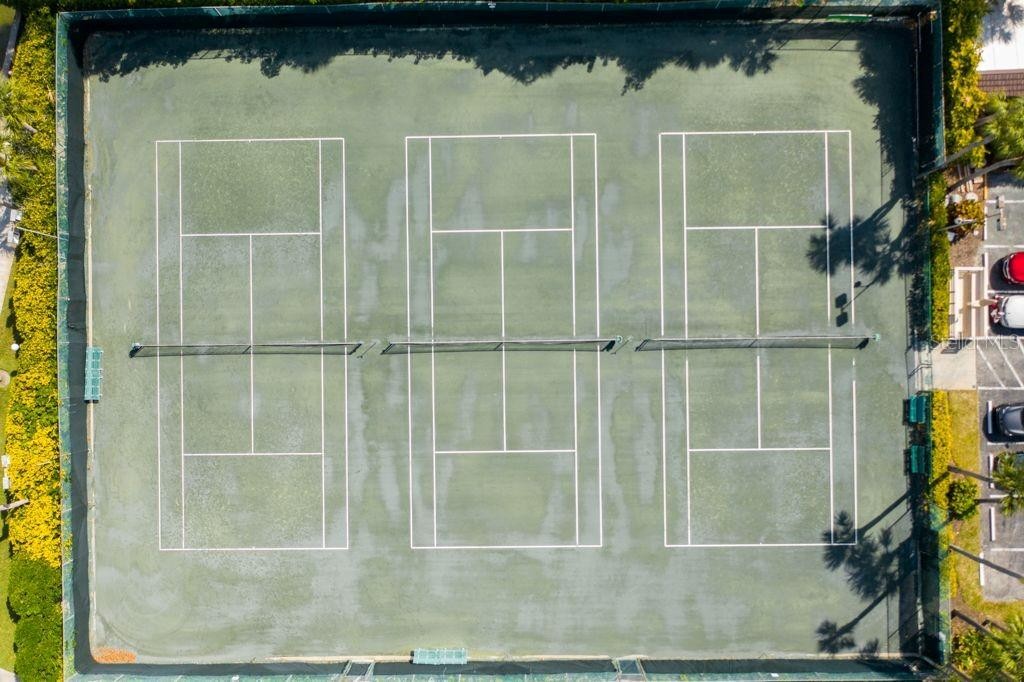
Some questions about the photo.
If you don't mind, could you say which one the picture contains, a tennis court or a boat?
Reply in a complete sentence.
It is a tennis court that can be seen here.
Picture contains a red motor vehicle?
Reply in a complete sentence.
Yes, the image includes a red motor vehicle.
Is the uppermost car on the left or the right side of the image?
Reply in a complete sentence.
The uppermost car is on the right side of the image.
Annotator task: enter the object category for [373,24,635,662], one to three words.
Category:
tennis court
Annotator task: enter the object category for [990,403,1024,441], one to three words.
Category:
car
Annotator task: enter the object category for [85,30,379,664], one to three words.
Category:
tennis court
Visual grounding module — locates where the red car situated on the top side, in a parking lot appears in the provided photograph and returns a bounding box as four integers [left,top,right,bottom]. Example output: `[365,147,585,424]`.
[999,251,1024,285]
